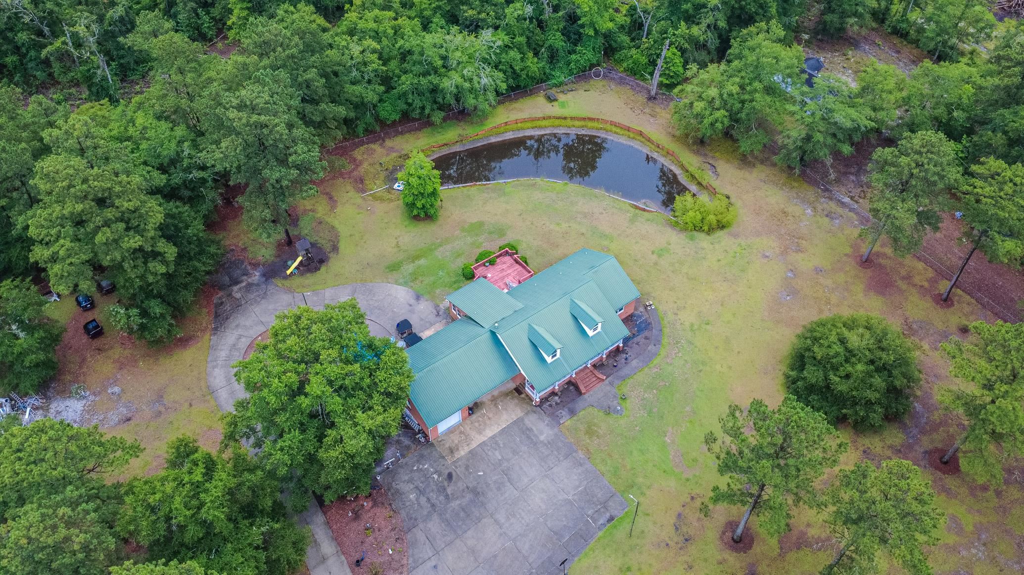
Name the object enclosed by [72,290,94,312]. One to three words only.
car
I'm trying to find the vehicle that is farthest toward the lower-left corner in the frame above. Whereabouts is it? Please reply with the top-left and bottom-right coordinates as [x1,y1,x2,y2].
[79,317,103,340]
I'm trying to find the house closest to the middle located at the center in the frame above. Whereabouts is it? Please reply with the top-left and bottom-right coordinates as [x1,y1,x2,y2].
[383,248,642,446]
